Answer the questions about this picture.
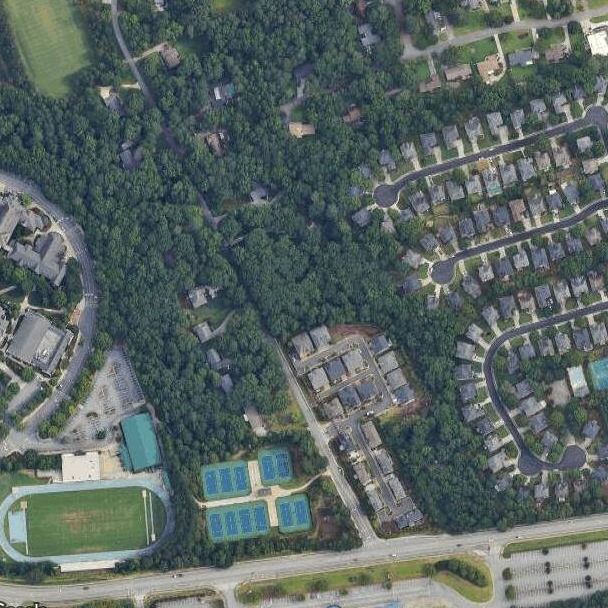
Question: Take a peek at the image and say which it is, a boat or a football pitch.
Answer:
football pitch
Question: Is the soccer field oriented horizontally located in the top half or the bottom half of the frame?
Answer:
bottom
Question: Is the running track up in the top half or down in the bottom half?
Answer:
bottom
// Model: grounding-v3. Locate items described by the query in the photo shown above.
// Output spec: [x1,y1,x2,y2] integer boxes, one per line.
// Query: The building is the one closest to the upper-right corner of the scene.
[588,31,608,55]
